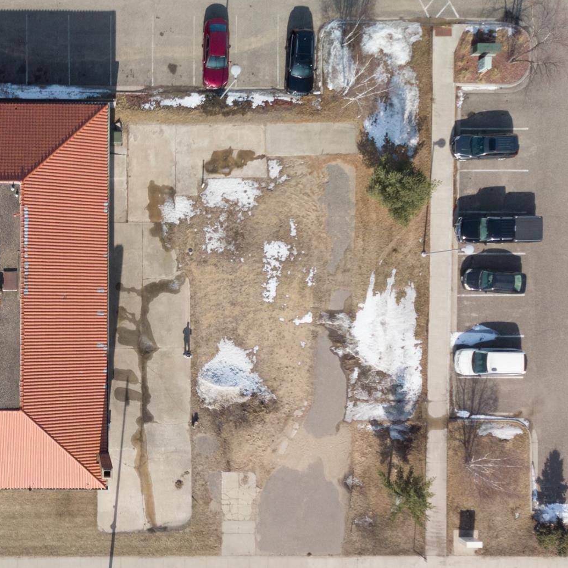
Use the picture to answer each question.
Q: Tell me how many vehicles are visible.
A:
6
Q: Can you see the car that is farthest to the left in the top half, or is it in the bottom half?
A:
top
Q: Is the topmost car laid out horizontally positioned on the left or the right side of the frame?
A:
right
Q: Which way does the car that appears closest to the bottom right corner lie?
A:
from side to side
